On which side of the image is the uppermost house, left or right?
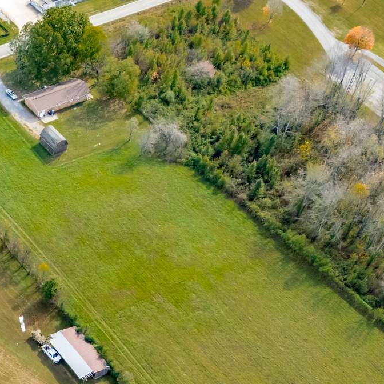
left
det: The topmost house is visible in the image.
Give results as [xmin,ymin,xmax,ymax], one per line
[23,82,97,118]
